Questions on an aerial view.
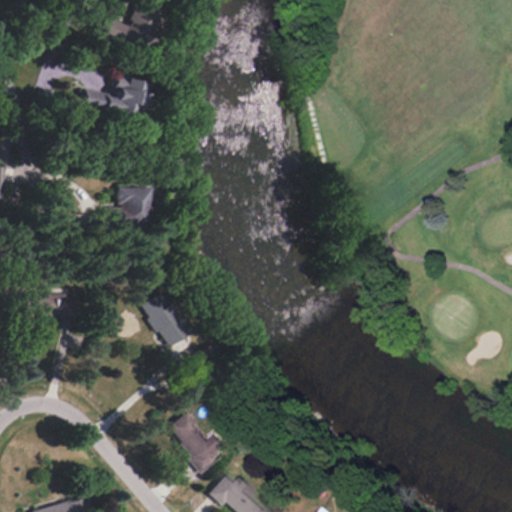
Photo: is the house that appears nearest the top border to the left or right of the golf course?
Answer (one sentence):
Compared with the golf course, the house that appears nearest the top border is located further to the left.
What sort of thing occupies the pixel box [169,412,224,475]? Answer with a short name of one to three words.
house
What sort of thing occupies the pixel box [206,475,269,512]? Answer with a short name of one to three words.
house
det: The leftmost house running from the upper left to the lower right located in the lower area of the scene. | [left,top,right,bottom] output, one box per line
[140,298,192,352]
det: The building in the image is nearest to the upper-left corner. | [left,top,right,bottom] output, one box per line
[110,12,150,38]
